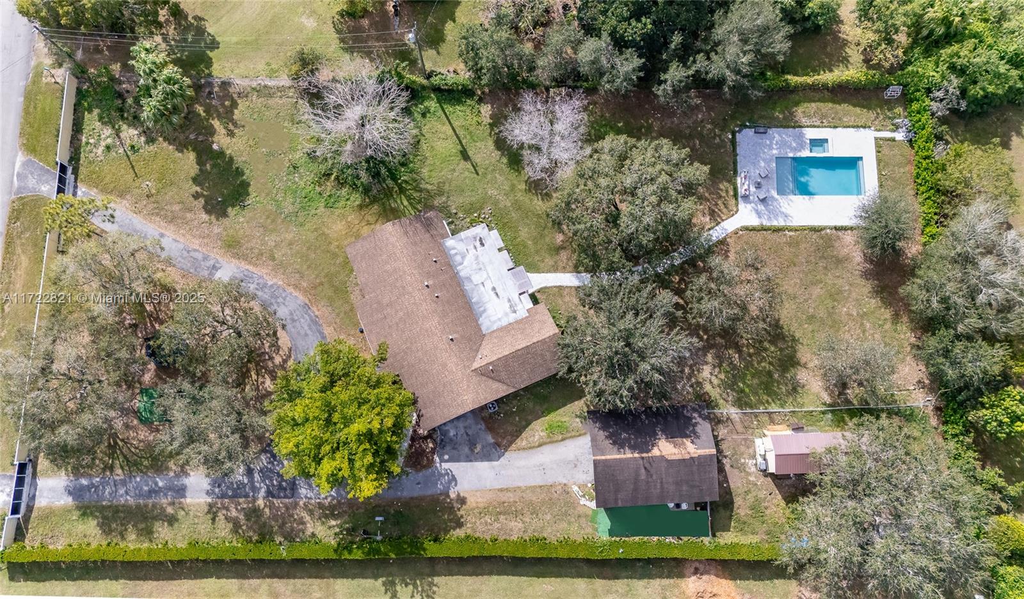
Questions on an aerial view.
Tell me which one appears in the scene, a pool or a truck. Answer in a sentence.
There is a pool in the scene.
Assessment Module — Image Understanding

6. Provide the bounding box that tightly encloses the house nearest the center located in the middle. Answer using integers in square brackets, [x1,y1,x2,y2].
[345,209,574,435]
